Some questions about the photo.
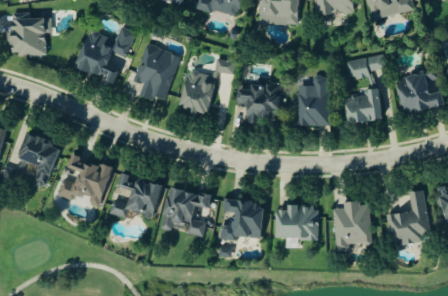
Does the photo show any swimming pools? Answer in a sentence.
Yes, the photo shows a swimming pool.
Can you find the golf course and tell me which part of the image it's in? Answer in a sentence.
You can find the golf course in the bottom left area of the picture.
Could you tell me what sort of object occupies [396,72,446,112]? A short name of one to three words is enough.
house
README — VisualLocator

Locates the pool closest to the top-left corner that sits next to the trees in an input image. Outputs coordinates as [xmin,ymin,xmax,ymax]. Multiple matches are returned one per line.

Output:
[56,14,74,33]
